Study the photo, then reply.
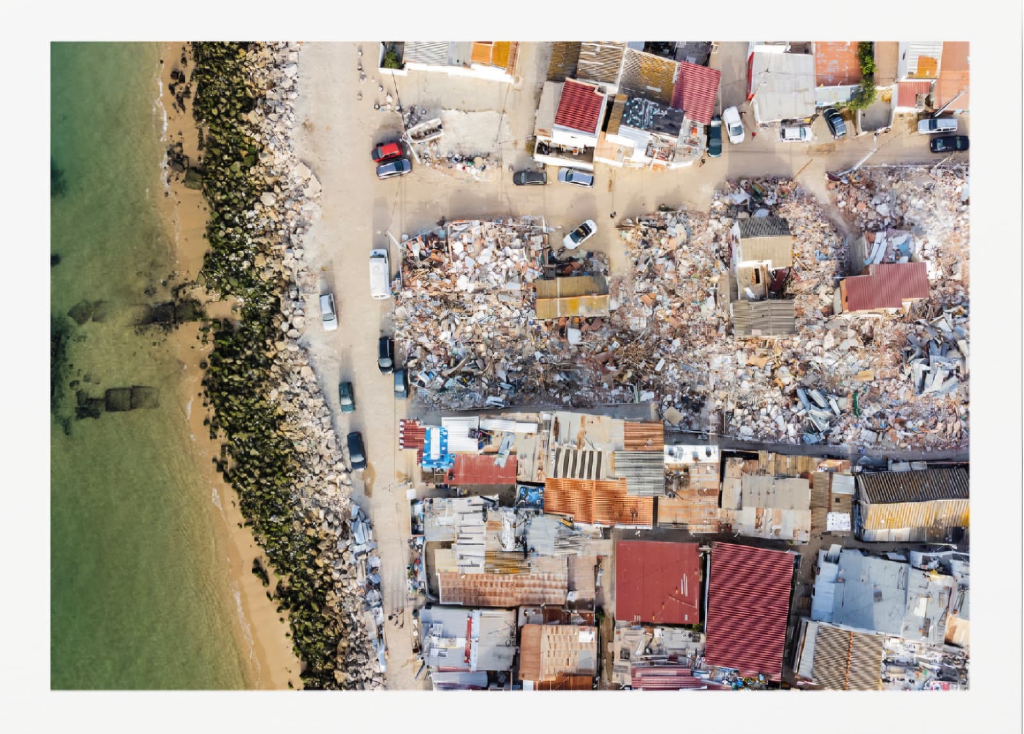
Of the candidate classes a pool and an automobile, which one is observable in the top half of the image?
automobile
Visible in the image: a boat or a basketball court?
boat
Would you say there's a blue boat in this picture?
No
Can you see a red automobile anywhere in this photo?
Yes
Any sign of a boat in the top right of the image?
No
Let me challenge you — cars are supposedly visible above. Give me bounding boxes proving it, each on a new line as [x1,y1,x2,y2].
[371,143,405,162]
[347,431,367,470]
[375,158,414,180]
[915,116,956,135]
[722,106,744,145]
[560,219,599,251]
[556,167,595,188]
[706,116,724,155]
[392,368,409,401]
[514,169,547,187]
[777,124,813,144]
[377,336,395,374]
[928,134,967,153]
[320,293,339,330]
[338,379,356,413]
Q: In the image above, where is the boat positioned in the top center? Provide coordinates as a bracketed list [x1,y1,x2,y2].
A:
[403,115,445,139]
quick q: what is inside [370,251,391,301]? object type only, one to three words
vehicle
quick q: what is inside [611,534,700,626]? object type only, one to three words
building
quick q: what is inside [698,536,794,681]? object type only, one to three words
building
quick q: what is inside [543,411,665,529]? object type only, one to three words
house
